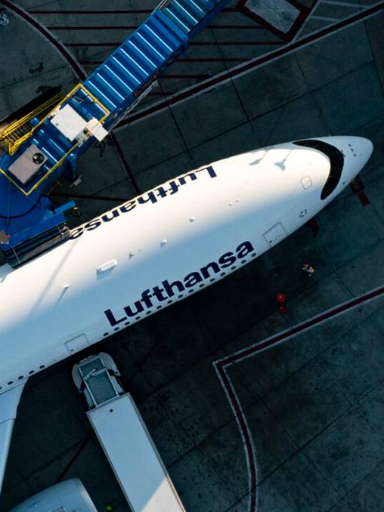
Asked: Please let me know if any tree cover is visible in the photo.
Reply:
No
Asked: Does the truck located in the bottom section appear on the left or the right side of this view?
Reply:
left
